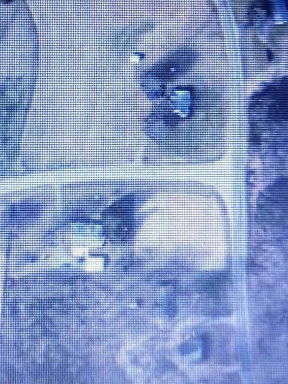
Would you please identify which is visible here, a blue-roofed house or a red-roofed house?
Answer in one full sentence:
The one in the frame is a blue-roofed house.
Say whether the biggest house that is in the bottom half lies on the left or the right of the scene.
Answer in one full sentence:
The biggest house that is in the bottom half sits on the left side.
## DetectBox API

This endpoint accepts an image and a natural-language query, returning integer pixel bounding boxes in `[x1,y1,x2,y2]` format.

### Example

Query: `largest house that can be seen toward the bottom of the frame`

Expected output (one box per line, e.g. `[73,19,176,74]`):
[71,223,103,248]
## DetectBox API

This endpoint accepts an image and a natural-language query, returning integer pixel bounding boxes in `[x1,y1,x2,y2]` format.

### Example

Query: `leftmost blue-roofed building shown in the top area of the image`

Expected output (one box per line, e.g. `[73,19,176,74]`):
[173,90,192,116]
